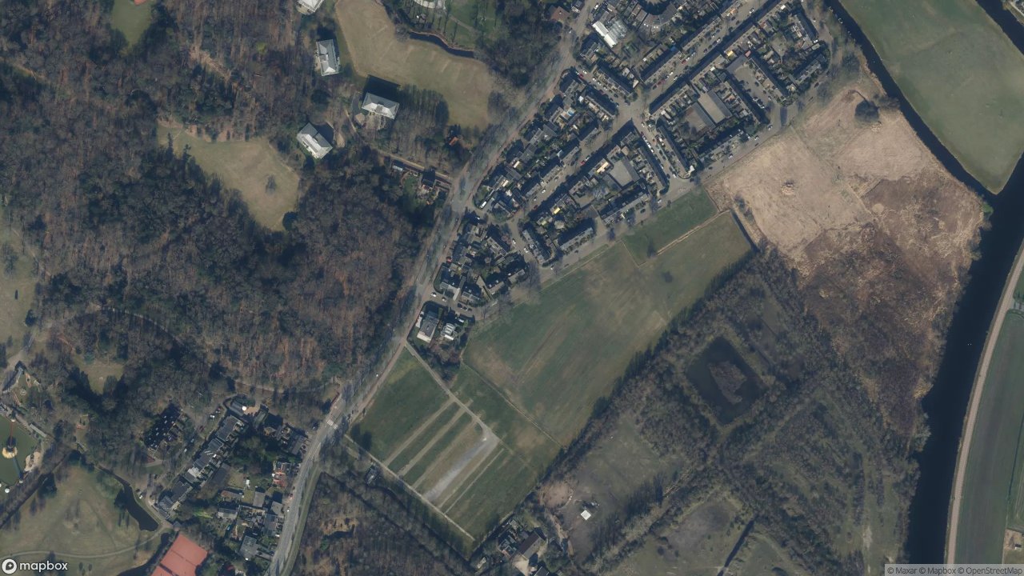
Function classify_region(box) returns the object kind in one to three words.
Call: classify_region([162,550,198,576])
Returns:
tennis court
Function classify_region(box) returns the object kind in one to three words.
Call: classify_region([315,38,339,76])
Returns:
building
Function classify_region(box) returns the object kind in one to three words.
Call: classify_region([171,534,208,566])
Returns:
tennis court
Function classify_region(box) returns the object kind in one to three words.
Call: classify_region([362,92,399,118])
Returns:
building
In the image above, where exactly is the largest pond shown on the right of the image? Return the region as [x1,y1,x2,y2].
[687,338,766,424]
